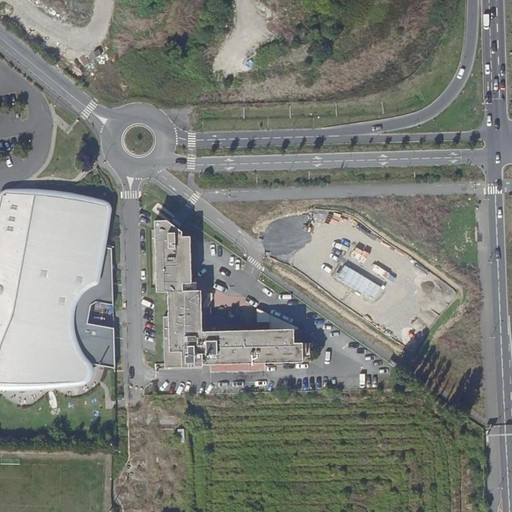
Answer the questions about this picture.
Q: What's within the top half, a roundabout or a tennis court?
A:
roundabout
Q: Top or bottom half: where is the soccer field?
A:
bottom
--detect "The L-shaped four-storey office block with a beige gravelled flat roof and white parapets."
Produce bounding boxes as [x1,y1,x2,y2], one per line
[153,219,304,370]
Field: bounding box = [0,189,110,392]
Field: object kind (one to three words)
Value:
building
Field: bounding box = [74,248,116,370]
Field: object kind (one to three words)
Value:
building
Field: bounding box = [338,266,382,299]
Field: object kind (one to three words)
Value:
shed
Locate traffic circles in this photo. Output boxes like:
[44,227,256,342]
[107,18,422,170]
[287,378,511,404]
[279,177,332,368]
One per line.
[84,102,188,190]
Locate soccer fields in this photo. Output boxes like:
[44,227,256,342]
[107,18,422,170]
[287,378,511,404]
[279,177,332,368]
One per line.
[0,460,104,512]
